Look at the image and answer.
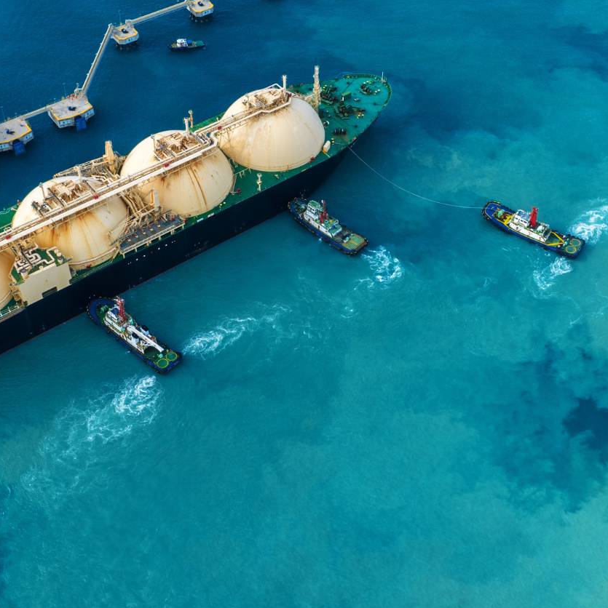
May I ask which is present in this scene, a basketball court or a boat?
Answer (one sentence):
Looking from above, you can make out a boat.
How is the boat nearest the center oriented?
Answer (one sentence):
In this picture, the boat nearest the center lies diagonally.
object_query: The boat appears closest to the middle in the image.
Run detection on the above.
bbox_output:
[288,196,373,259]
